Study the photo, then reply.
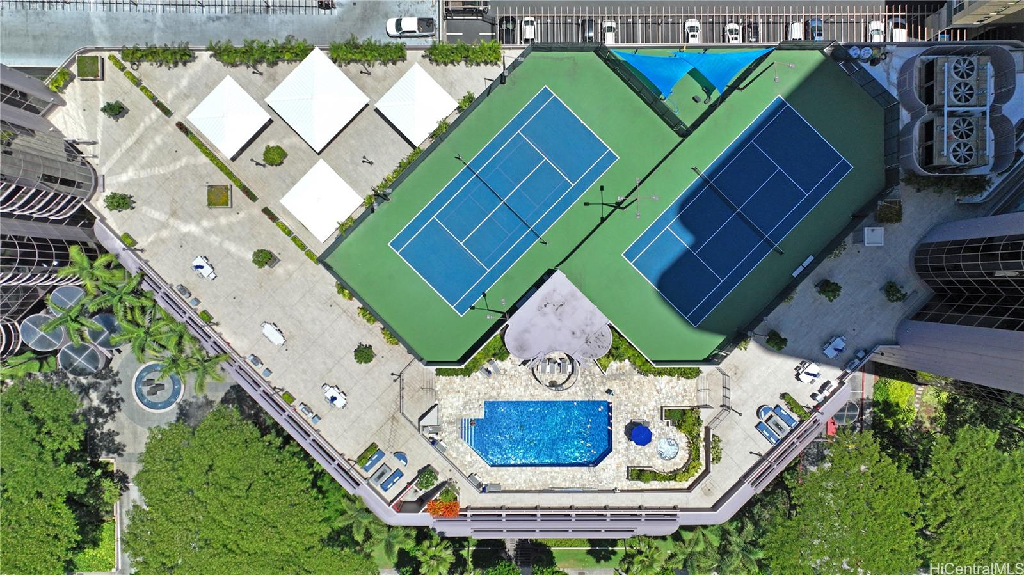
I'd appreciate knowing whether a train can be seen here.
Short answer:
No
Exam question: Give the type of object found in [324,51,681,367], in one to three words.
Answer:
tennis court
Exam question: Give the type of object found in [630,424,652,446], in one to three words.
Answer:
umbrella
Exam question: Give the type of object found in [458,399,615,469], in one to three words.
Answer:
swimming pool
